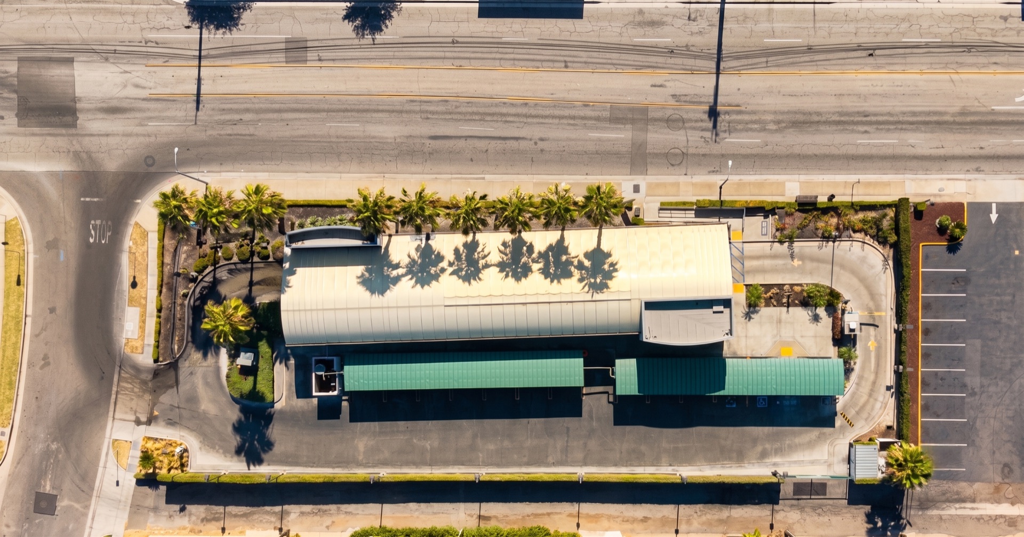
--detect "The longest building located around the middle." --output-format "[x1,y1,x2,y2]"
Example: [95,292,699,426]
[281,223,735,347]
